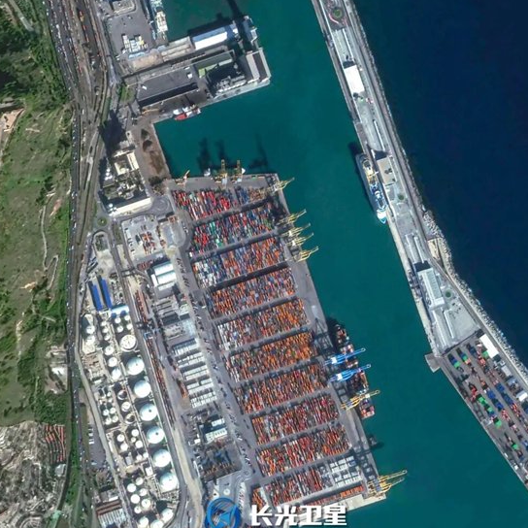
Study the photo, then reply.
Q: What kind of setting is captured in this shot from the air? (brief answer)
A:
port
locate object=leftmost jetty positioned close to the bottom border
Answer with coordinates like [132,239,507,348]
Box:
[294,490,384,525]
